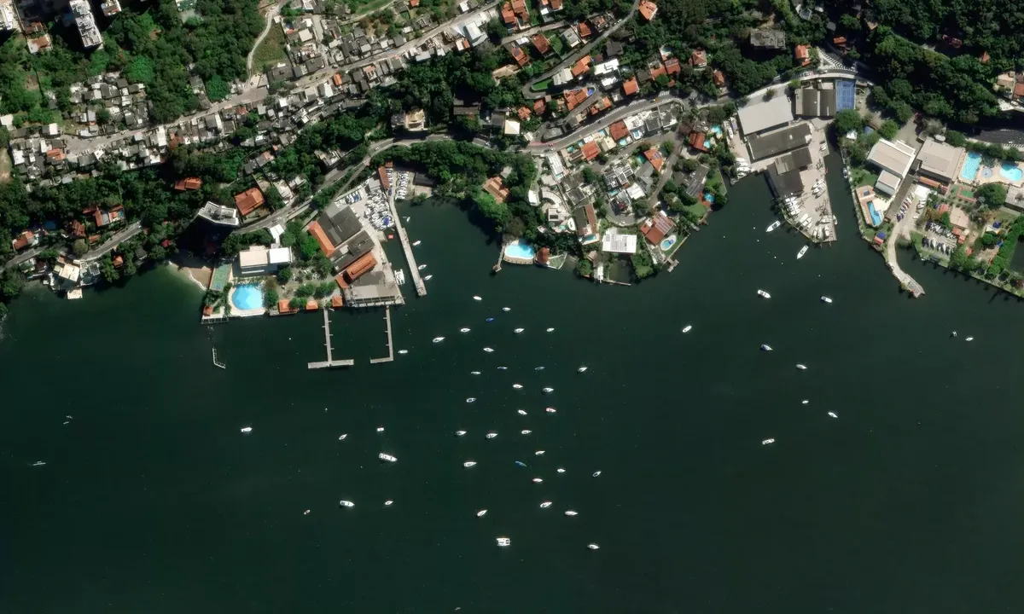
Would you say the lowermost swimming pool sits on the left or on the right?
left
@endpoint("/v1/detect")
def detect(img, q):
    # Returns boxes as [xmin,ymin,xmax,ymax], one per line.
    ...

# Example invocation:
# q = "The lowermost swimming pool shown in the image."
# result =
[232,283,264,311]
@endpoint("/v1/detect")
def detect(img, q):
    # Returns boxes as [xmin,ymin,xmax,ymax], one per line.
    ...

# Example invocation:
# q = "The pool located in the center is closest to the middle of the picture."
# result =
[504,239,535,258]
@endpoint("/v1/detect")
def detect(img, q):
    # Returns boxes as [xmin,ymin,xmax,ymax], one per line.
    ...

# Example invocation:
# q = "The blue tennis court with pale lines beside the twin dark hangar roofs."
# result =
[836,80,855,112]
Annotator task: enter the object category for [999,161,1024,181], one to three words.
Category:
swimming pool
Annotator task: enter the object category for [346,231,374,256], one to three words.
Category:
hangar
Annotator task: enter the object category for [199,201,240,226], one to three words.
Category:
building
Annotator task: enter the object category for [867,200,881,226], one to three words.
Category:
swimming pool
